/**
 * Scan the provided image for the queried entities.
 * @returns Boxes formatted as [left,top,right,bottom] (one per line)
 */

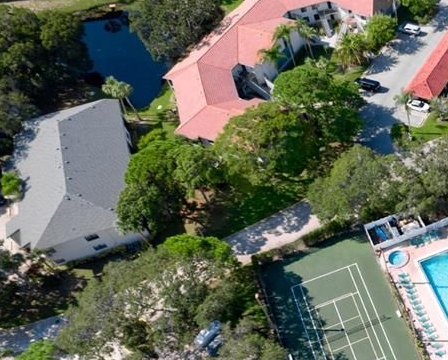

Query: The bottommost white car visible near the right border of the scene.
[405,98,429,113]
